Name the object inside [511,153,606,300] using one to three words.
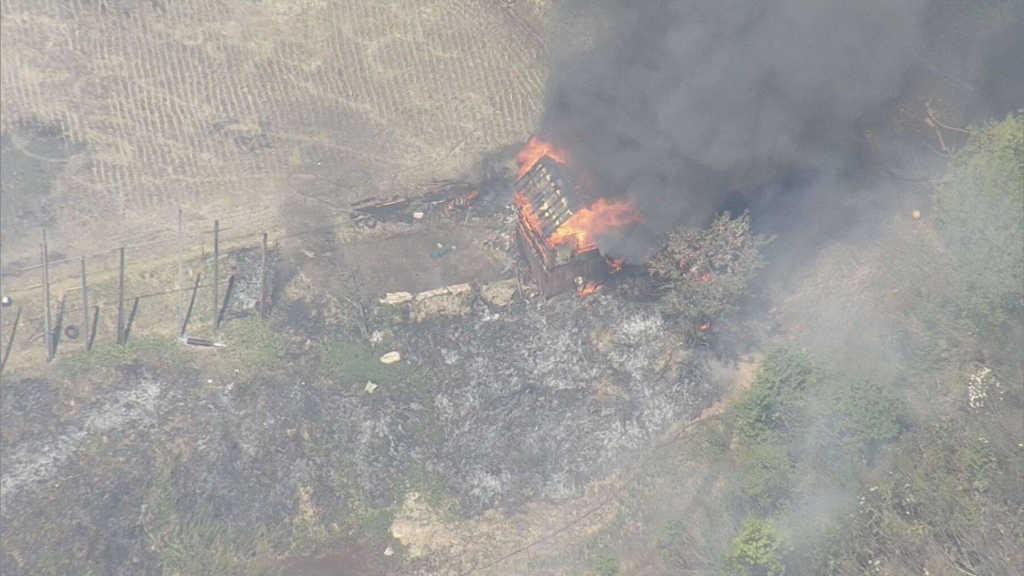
shed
